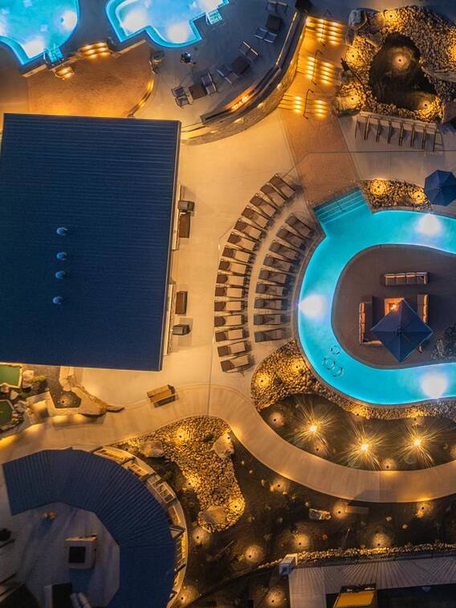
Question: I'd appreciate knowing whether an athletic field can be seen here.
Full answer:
No, no athletic field is visible in the scene.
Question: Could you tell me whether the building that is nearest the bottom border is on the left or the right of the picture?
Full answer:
You can find the building that is nearest the bottom border on the left side of the picture.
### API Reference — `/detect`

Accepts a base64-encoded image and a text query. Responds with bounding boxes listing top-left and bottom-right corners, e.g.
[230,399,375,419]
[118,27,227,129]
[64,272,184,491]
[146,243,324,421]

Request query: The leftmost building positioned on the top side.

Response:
[0,113,187,371]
